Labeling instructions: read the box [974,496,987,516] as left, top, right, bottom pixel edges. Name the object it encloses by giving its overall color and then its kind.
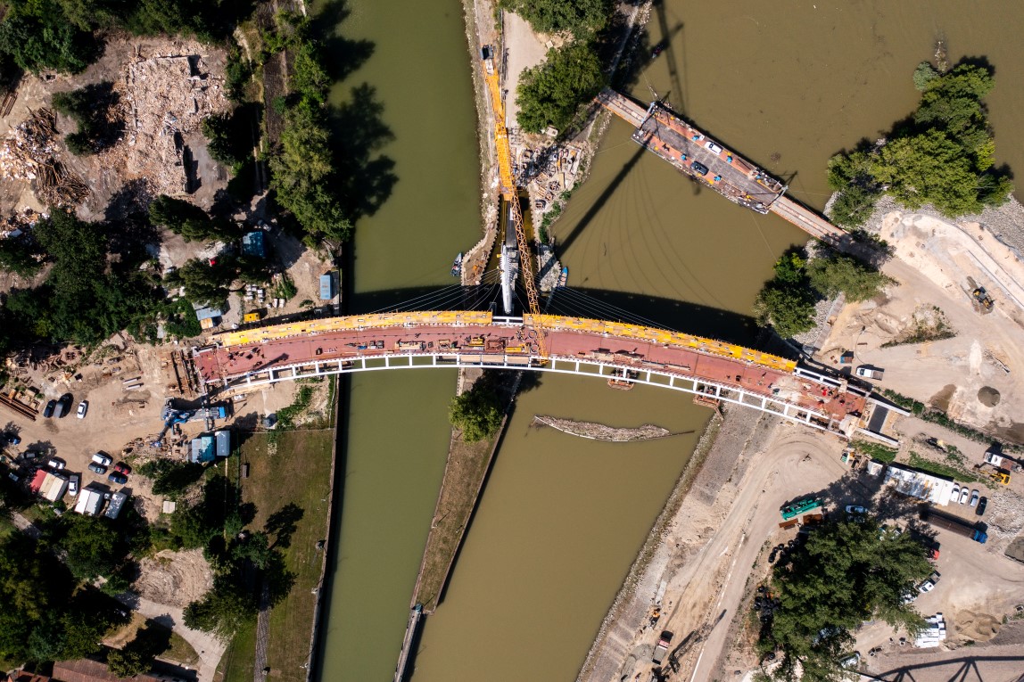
black vehicle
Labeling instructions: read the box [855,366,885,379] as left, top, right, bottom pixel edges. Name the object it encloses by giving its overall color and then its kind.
white vehicle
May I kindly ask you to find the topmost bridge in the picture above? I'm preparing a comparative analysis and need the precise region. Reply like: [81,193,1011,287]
[595,86,839,239]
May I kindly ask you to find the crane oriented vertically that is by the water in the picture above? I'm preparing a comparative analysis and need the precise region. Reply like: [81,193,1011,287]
[479,42,547,359]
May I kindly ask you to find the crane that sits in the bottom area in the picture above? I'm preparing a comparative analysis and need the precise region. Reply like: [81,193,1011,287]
[154,395,225,447]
